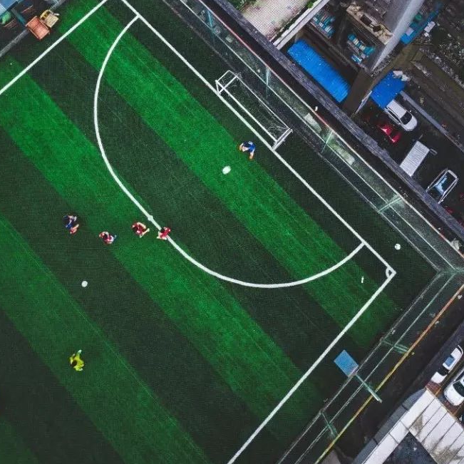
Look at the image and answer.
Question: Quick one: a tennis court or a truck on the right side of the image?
truck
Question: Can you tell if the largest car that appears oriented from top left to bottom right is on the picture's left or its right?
right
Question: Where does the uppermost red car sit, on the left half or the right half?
right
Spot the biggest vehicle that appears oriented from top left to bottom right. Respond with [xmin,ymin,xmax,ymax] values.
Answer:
[384,102,417,134]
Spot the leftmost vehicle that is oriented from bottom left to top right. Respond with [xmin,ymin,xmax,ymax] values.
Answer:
[401,137,433,176]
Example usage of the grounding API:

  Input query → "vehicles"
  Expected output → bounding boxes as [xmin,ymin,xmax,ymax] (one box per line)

[384,102,417,134]
[429,343,464,384]
[426,169,458,200]
[444,366,464,406]
[373,122,399,146]
[401,137,433,176]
